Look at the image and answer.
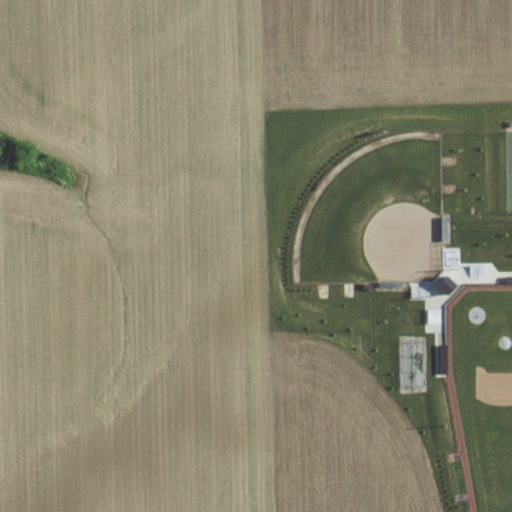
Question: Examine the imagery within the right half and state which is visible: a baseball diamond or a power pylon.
baseball diamond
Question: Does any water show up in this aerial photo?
No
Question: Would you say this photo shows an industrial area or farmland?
farmland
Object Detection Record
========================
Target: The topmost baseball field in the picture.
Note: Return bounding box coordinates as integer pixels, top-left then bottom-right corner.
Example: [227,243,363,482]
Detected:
[293,132,442,284]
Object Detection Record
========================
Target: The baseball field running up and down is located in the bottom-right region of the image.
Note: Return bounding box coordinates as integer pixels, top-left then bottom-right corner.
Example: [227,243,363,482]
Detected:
[445,284,512,512]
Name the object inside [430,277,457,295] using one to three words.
building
